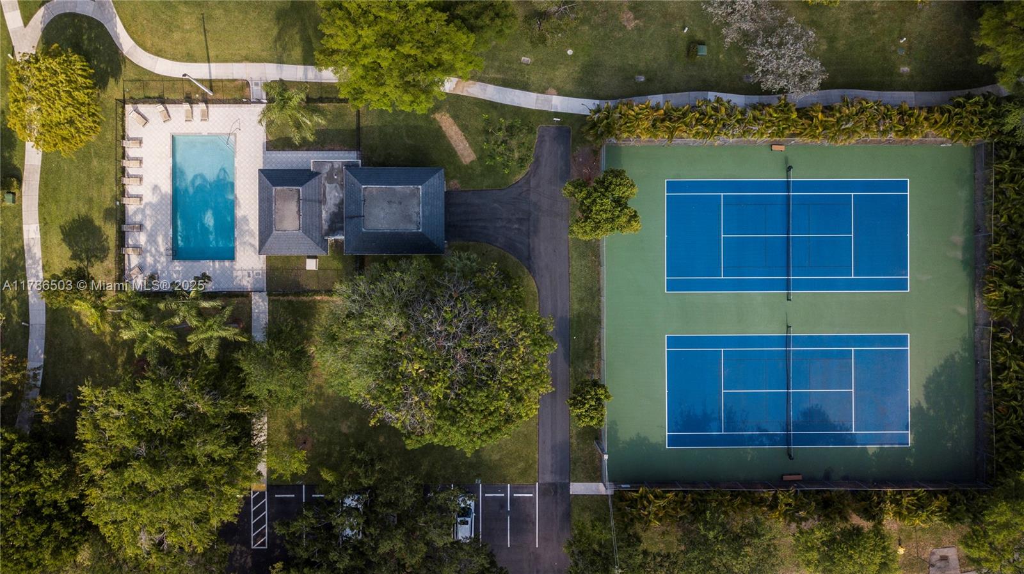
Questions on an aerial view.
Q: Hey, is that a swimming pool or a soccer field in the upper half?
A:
swimming pool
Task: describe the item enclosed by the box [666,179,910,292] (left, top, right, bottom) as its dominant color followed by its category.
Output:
blue tennis court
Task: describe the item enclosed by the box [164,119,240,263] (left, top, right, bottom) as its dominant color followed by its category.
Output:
blue swimming pool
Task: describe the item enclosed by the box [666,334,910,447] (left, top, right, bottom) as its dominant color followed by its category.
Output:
blue tennis court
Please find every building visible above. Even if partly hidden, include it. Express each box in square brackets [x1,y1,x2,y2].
[258,159,448,255]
